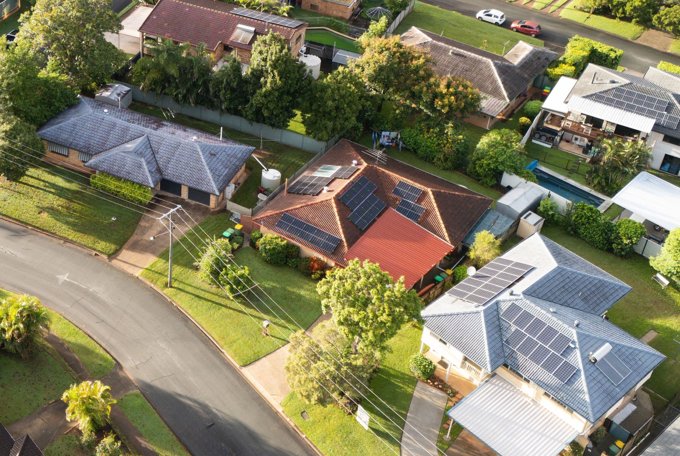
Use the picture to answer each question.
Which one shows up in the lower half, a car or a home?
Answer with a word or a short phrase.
home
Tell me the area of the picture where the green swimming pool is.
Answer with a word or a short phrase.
top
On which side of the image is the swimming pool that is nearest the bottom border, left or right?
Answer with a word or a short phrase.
right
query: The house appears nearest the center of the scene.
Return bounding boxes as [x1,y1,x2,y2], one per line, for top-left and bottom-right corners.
[243,139,496,271]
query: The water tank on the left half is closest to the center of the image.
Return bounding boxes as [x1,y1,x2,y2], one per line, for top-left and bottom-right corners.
[253,155,283,194]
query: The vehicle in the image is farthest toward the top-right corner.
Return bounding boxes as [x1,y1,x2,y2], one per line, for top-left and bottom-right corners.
[509,21,544,37]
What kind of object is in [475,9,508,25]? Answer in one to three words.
car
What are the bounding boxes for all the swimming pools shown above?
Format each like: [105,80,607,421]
[528,165,601,204]
[308,29,351,54]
